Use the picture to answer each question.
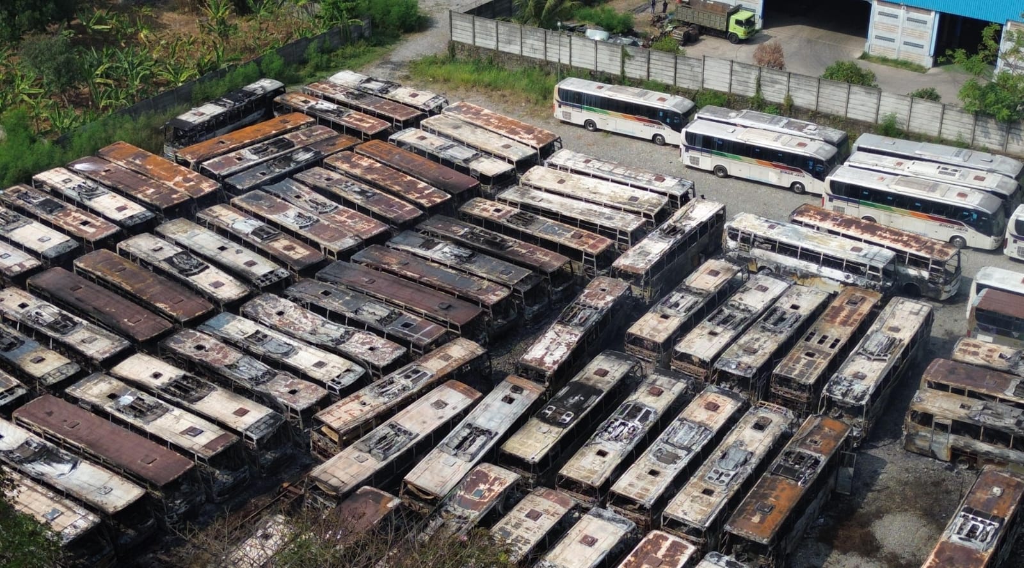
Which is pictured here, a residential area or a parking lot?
parking lot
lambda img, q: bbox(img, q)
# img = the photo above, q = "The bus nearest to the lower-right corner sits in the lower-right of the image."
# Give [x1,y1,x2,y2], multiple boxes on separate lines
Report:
[928,467,1024,568]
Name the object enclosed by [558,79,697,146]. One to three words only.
bus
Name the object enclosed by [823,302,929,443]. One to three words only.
bus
